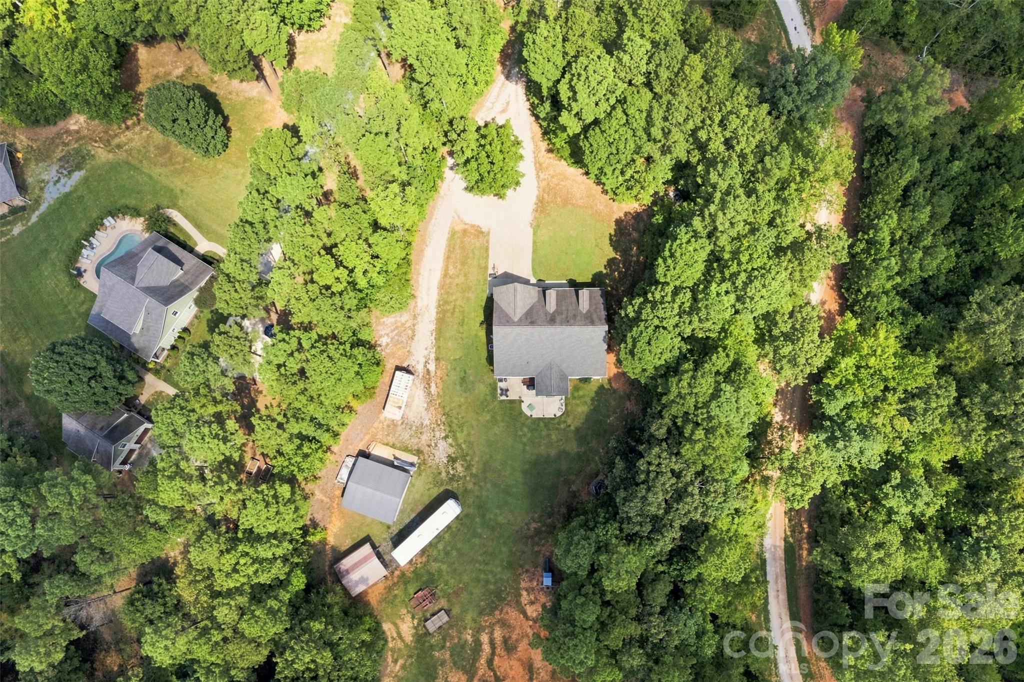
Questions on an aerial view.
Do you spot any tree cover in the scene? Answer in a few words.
Yes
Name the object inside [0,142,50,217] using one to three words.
house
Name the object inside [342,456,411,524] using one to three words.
building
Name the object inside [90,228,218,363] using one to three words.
house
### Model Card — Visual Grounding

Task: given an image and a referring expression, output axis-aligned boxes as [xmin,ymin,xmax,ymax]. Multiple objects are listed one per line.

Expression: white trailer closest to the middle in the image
[384,365,415,419]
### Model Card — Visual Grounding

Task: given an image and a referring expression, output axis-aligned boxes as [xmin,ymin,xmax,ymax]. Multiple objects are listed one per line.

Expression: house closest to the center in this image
[492,282,608,397]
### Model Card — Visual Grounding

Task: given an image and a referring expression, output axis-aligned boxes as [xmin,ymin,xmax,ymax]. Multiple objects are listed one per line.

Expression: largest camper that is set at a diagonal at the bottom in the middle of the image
[392,494,463,566]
